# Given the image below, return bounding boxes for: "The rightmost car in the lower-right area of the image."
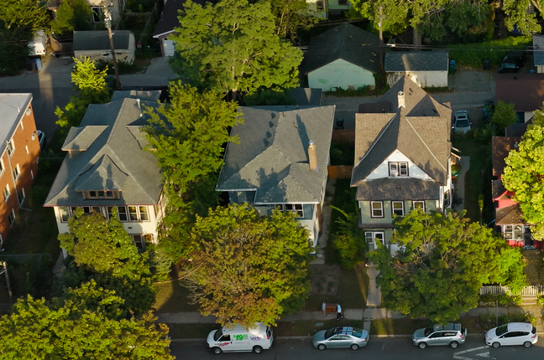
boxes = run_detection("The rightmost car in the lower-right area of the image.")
[485,322,538,348]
